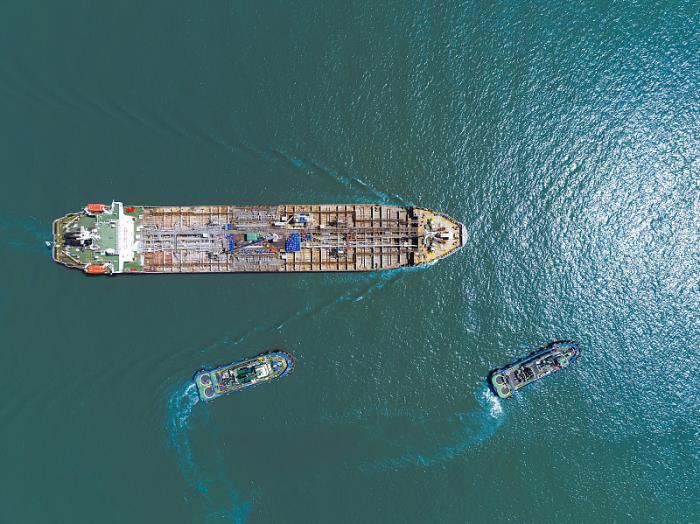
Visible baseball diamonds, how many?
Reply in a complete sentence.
The count of baseball diamonds is 0.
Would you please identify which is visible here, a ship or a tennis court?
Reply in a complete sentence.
Of the two, only a ship appears.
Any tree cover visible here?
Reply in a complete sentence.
No, the picture contains no tree cover.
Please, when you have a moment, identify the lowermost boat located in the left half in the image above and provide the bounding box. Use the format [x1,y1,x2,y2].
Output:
[196,352,296,400]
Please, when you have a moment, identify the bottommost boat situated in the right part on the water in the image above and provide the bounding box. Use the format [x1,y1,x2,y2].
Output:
[489,342,584,397]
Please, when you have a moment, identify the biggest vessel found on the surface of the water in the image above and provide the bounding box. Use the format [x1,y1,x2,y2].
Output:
[45,200,468,274]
